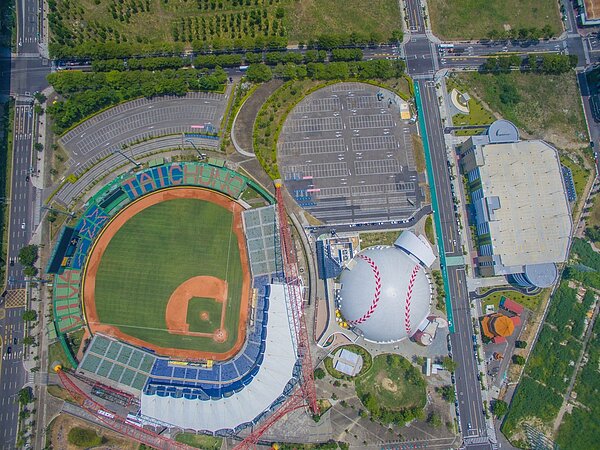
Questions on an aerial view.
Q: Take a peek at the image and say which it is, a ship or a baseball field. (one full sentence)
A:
The image shows a baseball field.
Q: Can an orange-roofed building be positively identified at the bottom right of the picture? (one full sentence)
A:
Yes, at the bottom right of the picture there is an orange-roofed building.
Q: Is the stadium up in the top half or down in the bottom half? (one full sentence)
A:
The stadium is in the bottom half of the image.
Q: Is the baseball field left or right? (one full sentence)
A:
The baseball field is on the left side of the image.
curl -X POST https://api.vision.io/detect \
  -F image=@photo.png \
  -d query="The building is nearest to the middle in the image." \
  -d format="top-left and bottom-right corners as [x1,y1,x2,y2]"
[316,238,359,278]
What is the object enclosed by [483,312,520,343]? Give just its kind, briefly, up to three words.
building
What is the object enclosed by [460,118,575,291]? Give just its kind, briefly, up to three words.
building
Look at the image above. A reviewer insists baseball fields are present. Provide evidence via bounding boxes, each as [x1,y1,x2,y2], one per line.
[73,187,254,361]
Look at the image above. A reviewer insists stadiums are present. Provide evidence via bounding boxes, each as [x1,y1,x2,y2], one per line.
[49,161,321,450]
